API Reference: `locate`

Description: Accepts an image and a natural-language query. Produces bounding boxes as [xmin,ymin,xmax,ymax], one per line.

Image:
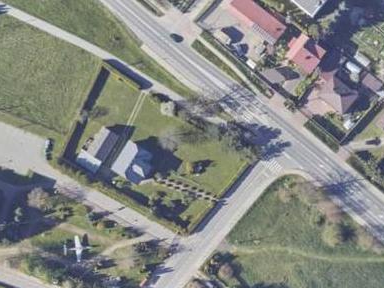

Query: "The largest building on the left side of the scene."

[110,139,155,184]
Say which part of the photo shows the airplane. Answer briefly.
bottom left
